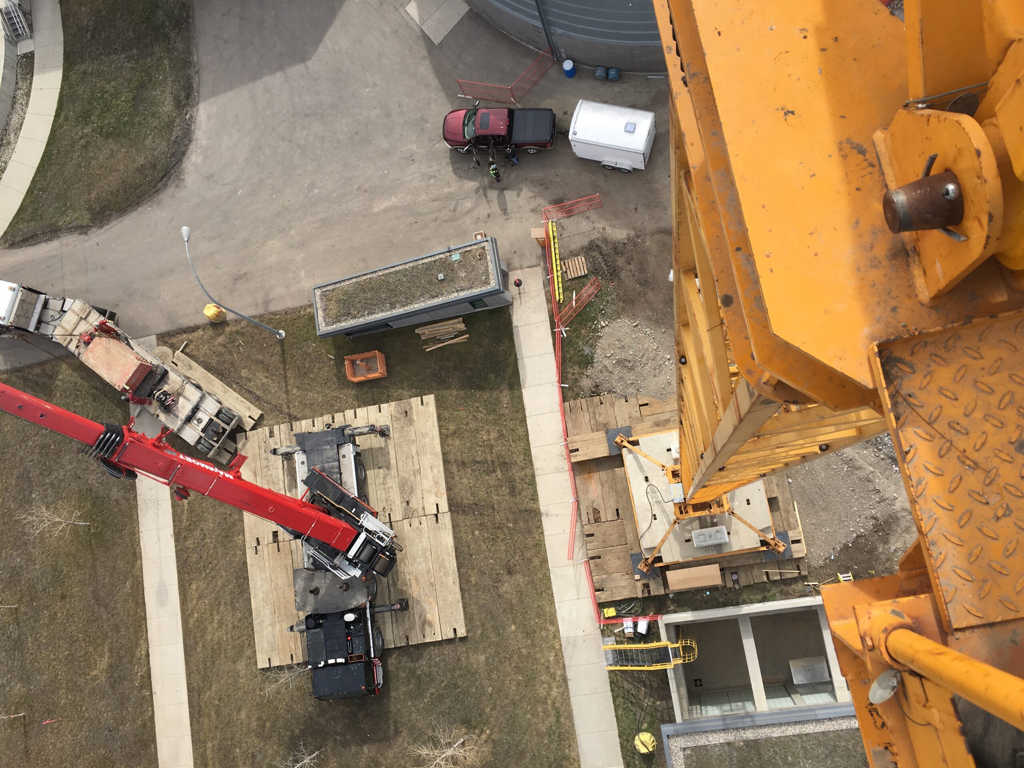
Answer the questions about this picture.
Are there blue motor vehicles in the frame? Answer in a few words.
No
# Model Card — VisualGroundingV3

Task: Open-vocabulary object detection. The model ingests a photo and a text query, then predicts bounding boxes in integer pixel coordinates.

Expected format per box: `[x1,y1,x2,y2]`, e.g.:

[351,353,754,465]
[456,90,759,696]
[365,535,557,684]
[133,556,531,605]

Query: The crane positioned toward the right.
[613,0,1024,768]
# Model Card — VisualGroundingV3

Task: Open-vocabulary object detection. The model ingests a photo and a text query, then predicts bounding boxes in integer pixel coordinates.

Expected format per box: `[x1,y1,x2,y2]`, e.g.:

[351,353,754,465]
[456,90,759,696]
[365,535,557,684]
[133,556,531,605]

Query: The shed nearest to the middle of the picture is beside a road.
[312,237,514,339]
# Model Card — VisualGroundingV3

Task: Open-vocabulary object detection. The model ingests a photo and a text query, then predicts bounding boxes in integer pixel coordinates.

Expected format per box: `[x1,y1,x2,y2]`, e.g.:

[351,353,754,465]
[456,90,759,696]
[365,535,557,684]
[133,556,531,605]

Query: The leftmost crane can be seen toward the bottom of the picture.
[0,369,411,705]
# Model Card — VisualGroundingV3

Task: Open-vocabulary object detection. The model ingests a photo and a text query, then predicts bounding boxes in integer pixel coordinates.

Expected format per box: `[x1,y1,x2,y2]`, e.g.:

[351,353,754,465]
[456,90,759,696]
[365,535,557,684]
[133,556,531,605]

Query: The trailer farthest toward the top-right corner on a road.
[555,100,656,171]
